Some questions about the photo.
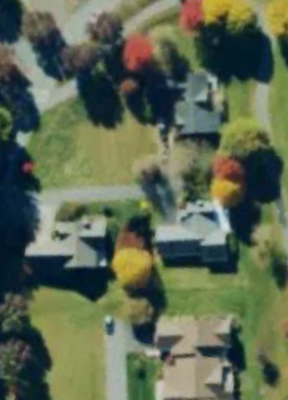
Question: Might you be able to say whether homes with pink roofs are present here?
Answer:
No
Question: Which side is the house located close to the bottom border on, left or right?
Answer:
right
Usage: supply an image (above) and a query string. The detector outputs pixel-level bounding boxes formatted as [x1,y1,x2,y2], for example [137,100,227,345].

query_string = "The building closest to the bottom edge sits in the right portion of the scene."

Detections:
[154,313,233,400]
